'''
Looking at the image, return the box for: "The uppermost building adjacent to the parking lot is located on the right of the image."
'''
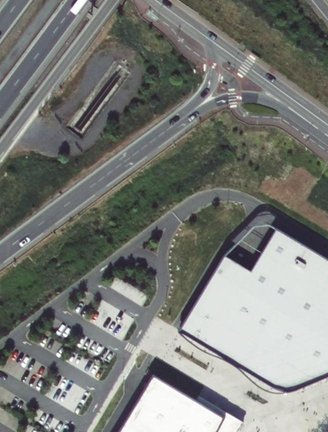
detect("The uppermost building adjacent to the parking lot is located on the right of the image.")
[182,224,328,396]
